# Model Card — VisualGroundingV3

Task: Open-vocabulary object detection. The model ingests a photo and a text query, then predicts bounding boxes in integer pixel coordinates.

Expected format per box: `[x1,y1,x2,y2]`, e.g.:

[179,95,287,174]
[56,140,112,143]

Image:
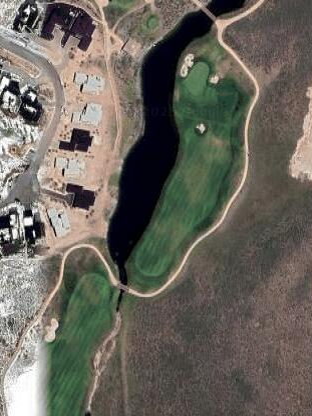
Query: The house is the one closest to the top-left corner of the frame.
[12,0,37,34]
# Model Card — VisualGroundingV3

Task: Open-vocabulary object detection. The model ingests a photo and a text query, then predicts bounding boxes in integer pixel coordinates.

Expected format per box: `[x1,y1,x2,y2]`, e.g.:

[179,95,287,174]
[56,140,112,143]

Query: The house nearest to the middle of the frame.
[66,183,95,211]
